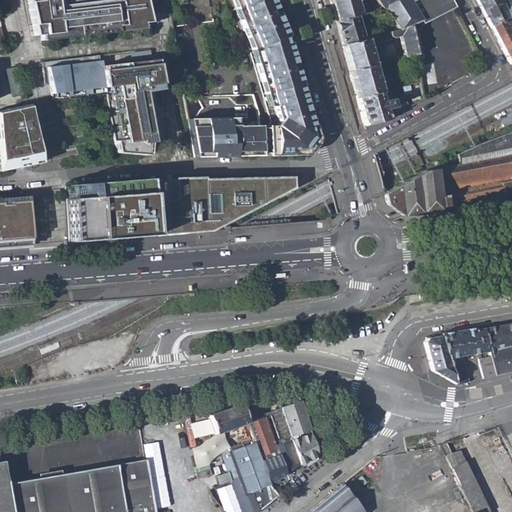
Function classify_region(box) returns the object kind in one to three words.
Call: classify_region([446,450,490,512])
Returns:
shed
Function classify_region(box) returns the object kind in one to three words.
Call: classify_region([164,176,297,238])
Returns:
building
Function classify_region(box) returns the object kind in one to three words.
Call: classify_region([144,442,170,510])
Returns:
shed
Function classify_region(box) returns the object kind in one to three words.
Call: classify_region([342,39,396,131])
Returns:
house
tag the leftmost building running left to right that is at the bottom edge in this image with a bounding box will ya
[16,465,130,512]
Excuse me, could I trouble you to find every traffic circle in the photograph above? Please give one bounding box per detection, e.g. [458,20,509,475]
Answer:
[337,216,396,275]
